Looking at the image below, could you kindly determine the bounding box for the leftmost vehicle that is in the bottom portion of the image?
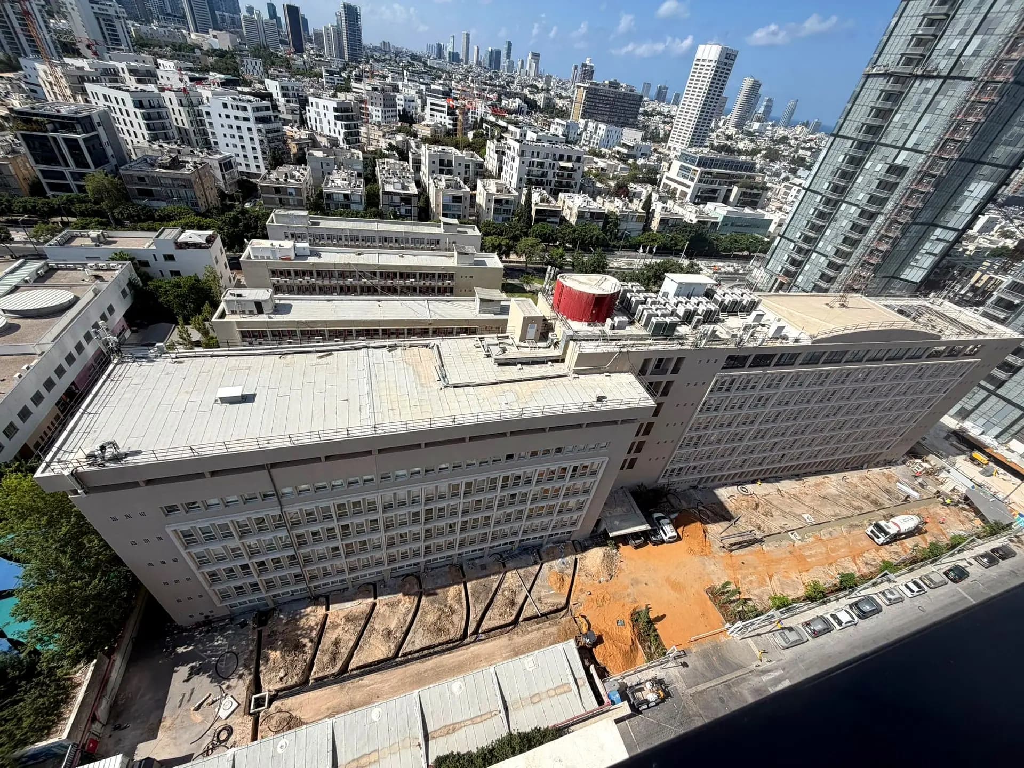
[572,613,602,655]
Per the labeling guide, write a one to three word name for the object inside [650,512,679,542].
car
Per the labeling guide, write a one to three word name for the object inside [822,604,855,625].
car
